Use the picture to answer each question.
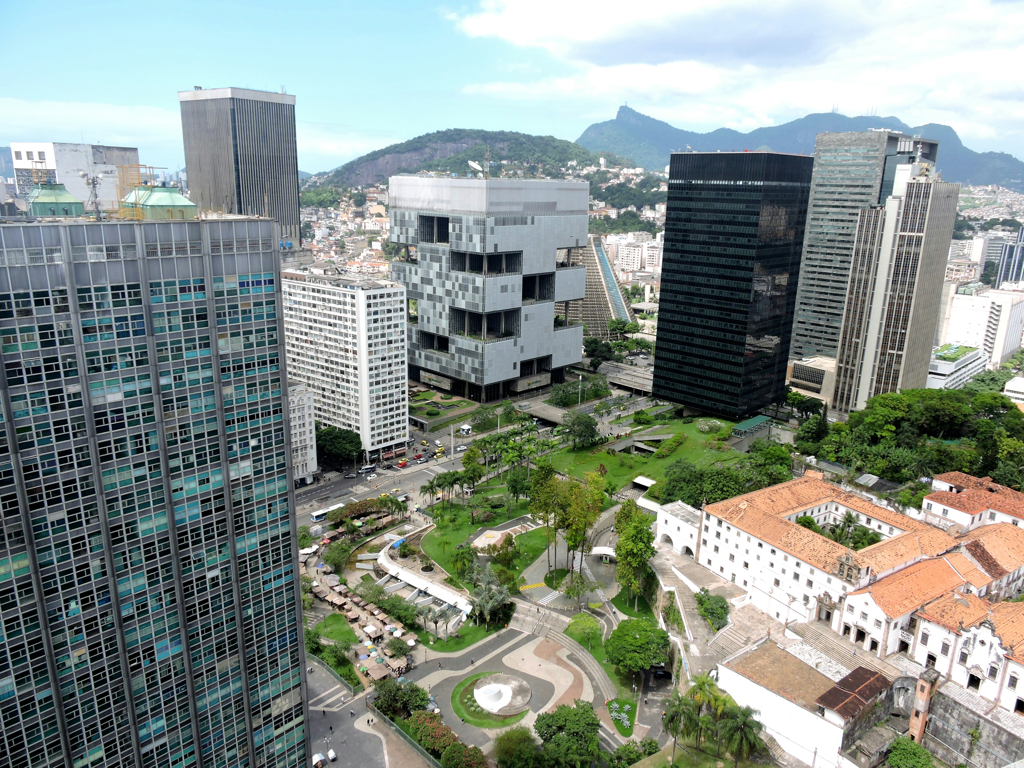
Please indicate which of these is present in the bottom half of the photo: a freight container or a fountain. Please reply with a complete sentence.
There is a fountain in the bottom half of the photo.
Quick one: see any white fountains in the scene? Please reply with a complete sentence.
Yes, I can see a white fountain in this picture.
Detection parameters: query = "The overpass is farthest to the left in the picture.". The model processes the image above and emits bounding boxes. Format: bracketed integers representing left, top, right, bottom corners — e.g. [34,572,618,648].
[519,396,573,428]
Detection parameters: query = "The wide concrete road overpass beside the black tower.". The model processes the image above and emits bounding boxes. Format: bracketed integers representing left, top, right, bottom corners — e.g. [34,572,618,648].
[606,361,656,398]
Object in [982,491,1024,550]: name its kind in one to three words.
building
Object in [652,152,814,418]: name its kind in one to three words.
building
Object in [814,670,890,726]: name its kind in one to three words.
shed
